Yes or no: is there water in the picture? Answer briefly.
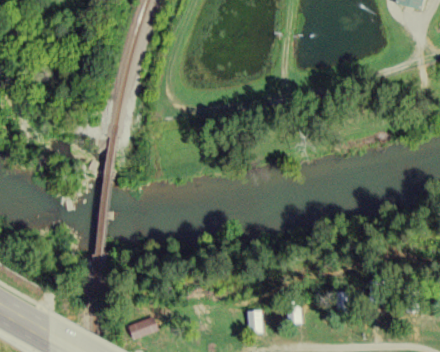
Yes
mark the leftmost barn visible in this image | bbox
[128,316,158,340]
